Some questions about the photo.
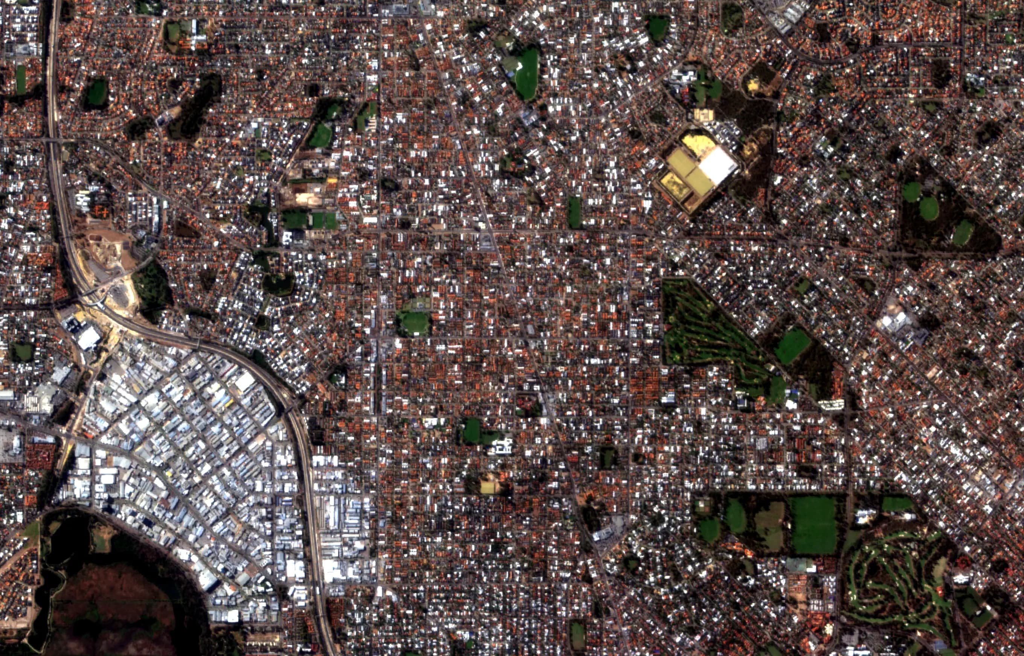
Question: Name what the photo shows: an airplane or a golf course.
golf course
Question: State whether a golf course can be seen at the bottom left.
No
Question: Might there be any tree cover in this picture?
Yes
